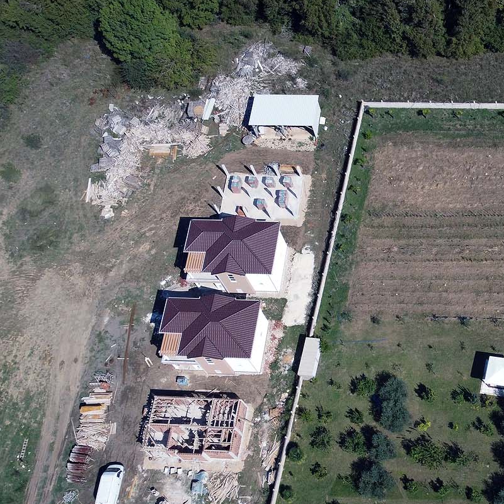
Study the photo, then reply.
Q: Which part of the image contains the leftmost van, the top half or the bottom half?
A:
bottom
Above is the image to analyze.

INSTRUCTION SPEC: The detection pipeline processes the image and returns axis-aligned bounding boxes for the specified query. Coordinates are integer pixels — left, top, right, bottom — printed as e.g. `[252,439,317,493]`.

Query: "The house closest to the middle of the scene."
[182,215,287,294]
